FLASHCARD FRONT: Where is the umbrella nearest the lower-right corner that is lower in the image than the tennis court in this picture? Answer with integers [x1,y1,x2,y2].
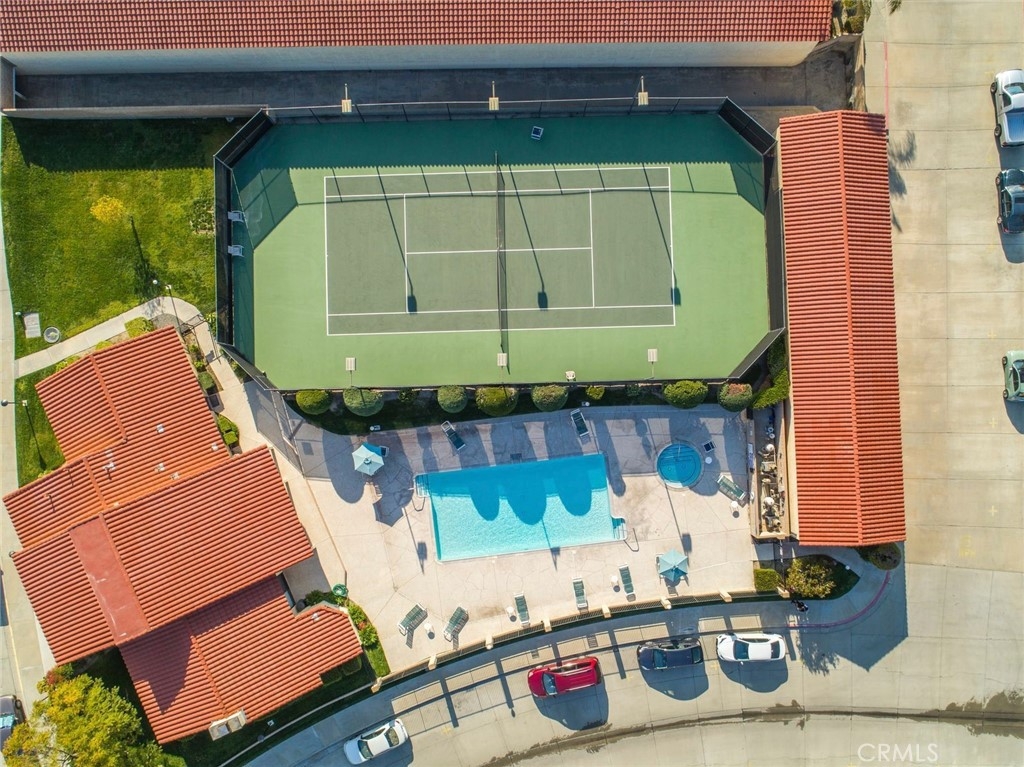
[657,547,687,581]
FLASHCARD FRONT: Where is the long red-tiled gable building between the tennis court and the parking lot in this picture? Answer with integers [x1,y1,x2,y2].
[772,106,906,548]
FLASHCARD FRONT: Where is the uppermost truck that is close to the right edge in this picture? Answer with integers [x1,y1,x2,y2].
[990,69,1024,150]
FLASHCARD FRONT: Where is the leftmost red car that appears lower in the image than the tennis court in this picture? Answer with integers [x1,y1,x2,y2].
[529,655,602,698]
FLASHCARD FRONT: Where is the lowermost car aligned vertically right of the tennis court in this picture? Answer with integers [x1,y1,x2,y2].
[999,349,1024,402]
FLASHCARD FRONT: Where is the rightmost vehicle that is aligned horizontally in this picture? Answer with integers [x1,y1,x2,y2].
[715,630,786,664]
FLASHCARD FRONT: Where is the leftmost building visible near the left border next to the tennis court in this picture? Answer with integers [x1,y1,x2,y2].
[1,326,360,745]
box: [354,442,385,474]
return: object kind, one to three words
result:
umbrella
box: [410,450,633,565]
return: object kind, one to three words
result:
swimming pool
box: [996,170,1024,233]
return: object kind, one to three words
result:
car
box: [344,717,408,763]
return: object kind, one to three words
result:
car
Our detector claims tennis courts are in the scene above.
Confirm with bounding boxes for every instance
[231,118,769,396]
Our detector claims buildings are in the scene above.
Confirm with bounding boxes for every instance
[0,0,834,75]
[1,326,360,745]
[772,106,906,548]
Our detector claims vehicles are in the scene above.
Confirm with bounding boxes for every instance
[715,630,786,664]
[990,69,1024,150]
[344,717,408,763]
[529,655,602,698]
[996,170,1024,233]
[636,636,704,671]
[999,349,1024,402]
[0,692,22,764]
